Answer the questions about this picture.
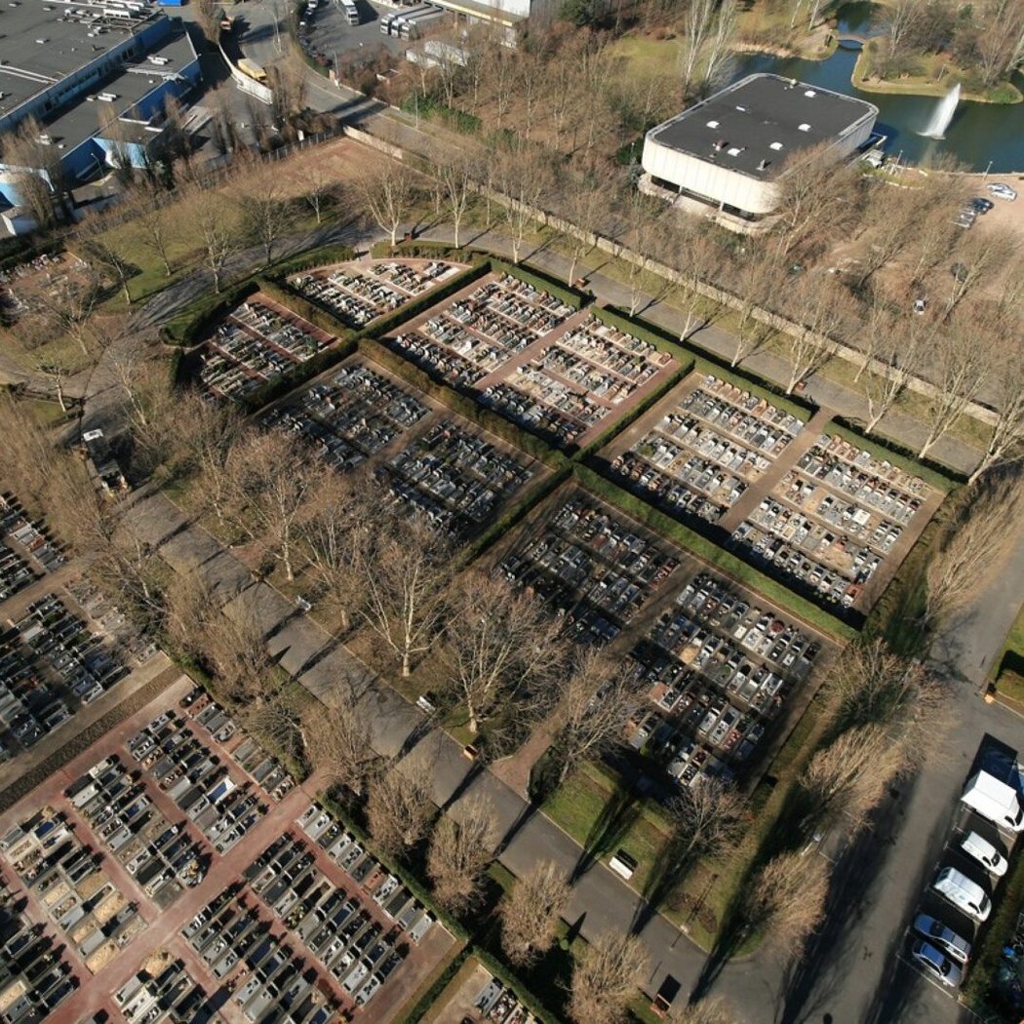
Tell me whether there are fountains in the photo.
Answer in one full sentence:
Yes, there's a fountain here.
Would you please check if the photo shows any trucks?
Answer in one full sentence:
Yes, a truck is visible in the scene.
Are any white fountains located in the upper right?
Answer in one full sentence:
Yes, looking in the upper right, one can make out a white fountain.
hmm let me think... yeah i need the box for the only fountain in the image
[927,84,962,139]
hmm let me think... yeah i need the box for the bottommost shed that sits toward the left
[76,439,126,485]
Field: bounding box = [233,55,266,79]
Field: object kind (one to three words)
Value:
truck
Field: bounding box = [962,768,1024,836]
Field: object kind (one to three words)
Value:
truck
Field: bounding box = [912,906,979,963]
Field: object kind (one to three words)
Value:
car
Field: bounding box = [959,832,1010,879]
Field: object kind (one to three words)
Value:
van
